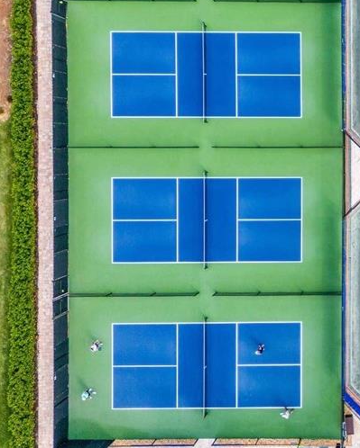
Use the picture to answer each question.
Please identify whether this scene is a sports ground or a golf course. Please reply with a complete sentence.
It's a sports ground.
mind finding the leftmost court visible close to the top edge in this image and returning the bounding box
[66,0,339,147]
